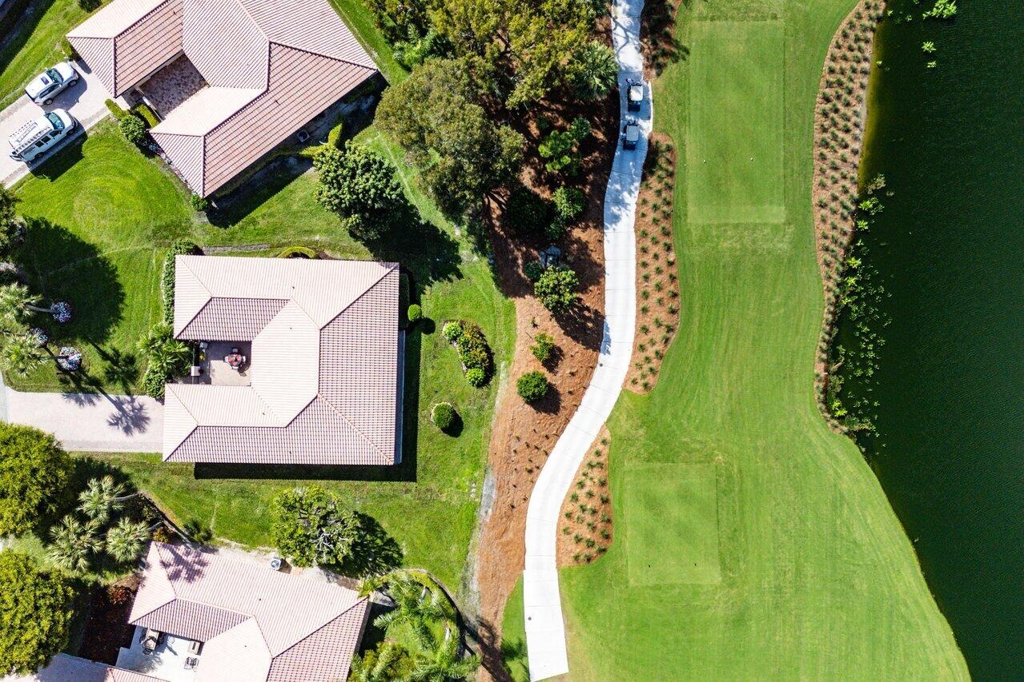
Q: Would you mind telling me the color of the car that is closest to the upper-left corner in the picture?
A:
white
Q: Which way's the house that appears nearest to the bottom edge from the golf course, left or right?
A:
on its left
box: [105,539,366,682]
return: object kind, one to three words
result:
house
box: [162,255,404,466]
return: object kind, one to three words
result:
house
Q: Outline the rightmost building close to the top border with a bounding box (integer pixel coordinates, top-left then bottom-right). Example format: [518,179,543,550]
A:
[68,0,379,197]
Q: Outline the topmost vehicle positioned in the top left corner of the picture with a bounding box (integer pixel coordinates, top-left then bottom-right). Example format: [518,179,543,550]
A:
[21,57,80,104]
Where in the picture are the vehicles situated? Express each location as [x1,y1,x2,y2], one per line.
[625,84,643,113]
[21,57,80,104]
[622,123,639,152]
[3,104,80,163]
